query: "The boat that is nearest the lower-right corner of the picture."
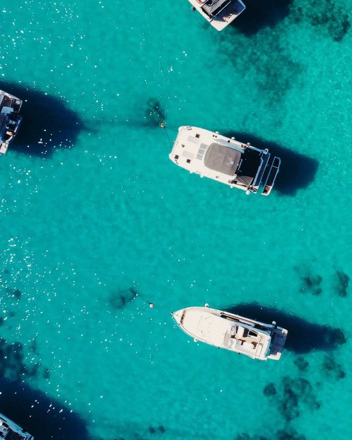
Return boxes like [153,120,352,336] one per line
[153,304,287,360]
